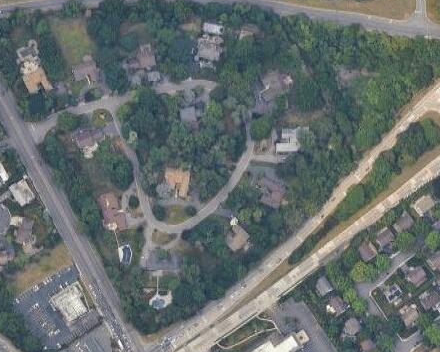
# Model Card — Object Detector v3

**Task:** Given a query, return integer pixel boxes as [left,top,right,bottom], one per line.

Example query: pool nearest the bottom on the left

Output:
[148,291,173,309]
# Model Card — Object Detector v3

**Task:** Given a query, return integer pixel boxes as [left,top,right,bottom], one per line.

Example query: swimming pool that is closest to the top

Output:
[119,244,133,264]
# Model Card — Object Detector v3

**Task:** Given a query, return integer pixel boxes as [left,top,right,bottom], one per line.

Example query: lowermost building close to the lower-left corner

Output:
[52,283,91,324]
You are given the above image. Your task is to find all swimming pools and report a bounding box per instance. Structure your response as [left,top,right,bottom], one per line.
[148,291,173,309]
[119,244,133,264]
